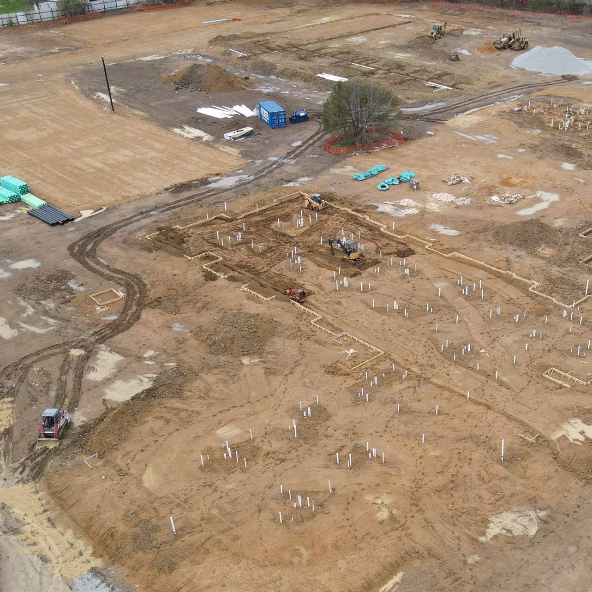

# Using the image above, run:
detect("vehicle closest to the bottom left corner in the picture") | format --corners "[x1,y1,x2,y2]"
[32,407,74,451]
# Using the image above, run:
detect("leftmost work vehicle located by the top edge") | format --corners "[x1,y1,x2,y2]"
[427,16,445,40]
